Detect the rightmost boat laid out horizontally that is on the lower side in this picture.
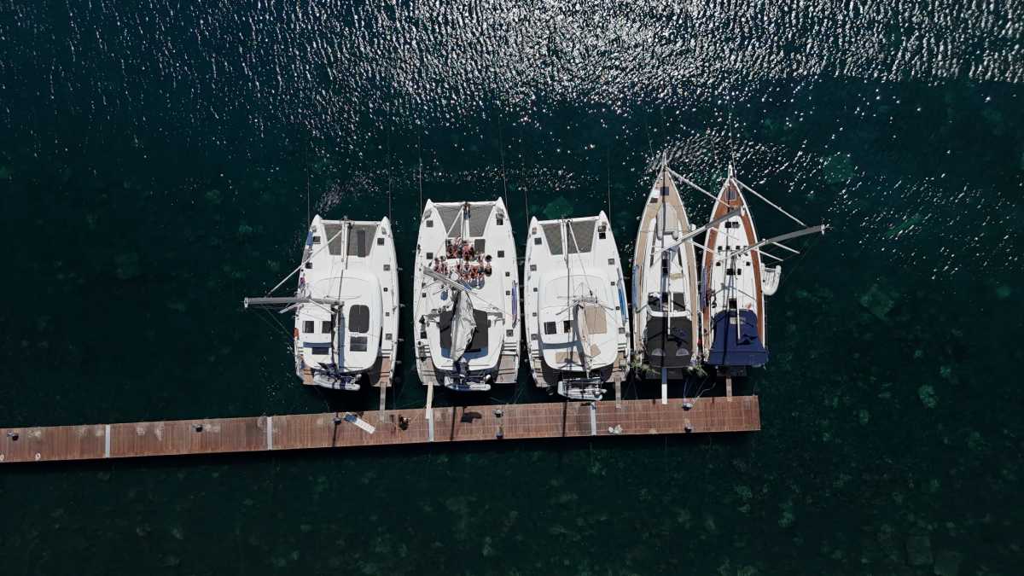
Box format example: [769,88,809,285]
[560,377,612,402]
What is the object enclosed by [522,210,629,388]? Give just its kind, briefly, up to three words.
boat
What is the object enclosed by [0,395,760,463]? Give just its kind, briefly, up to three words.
pier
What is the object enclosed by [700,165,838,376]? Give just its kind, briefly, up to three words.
boat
